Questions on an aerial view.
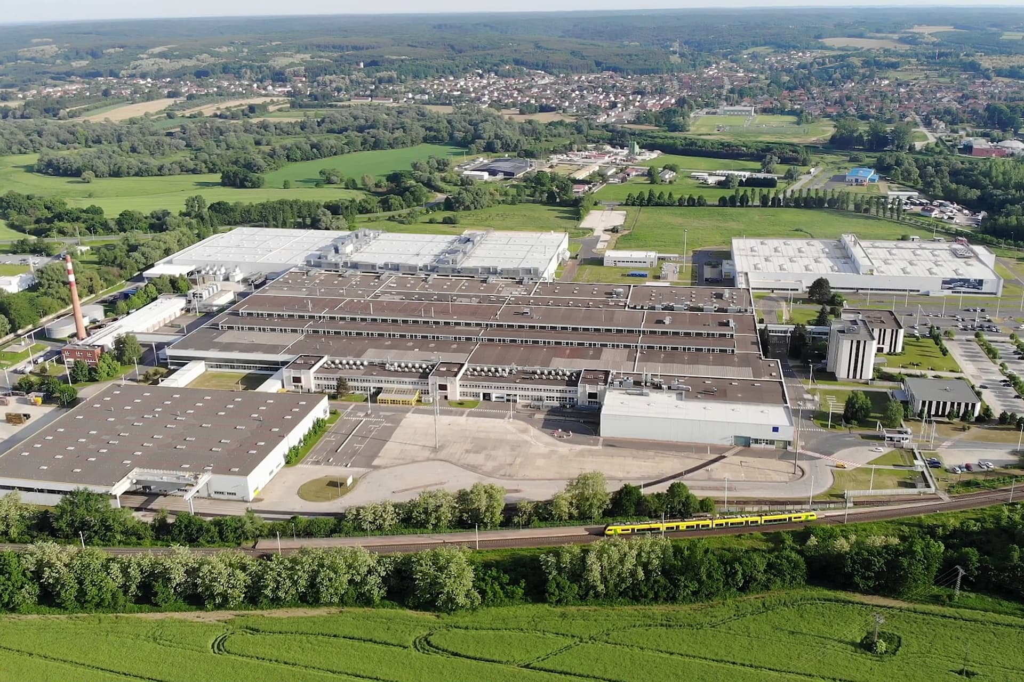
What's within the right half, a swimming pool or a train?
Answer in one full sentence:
Looking within the right half, you will find a train.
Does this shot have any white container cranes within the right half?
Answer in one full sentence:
No, I can find no white container crane within the right half.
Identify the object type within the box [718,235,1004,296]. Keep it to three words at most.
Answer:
building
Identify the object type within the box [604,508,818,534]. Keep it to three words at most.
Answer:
train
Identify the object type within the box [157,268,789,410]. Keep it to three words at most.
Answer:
building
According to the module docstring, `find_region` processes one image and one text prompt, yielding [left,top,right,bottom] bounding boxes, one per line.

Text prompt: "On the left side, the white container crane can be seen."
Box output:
[108,463,213,508]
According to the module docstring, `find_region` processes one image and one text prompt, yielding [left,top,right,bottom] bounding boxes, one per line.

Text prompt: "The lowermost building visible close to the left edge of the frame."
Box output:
[0,381,326,505]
